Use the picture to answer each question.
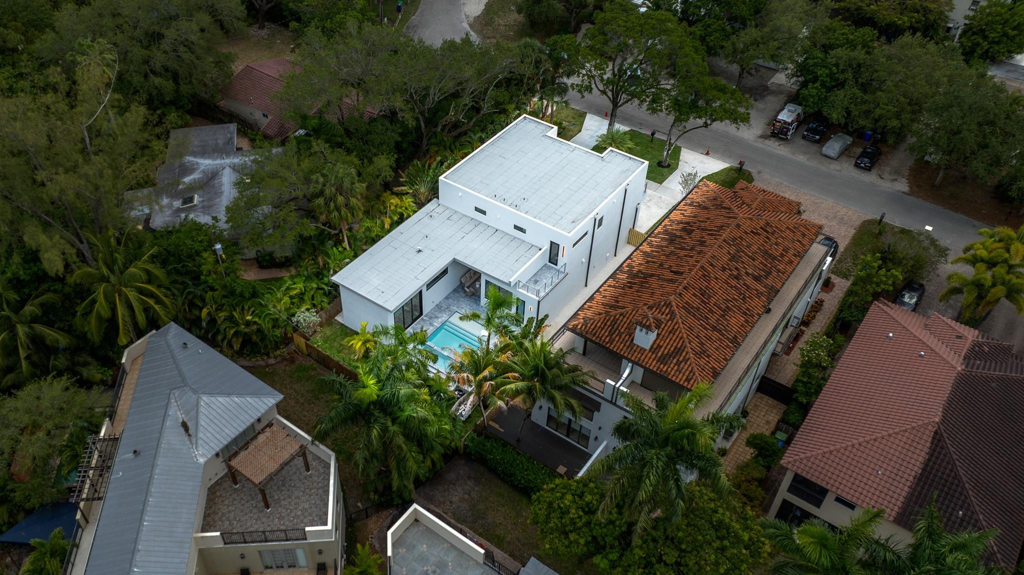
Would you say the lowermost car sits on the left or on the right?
right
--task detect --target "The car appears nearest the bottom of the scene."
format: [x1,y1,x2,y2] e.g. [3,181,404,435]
[893,278,927,315]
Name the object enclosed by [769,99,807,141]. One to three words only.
van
